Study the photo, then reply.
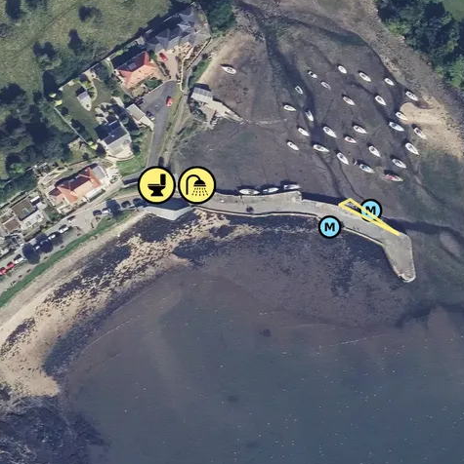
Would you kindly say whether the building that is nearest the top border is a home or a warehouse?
home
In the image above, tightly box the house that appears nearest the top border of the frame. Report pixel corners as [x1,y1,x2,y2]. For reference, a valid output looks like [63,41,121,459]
[157,6,216,64]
